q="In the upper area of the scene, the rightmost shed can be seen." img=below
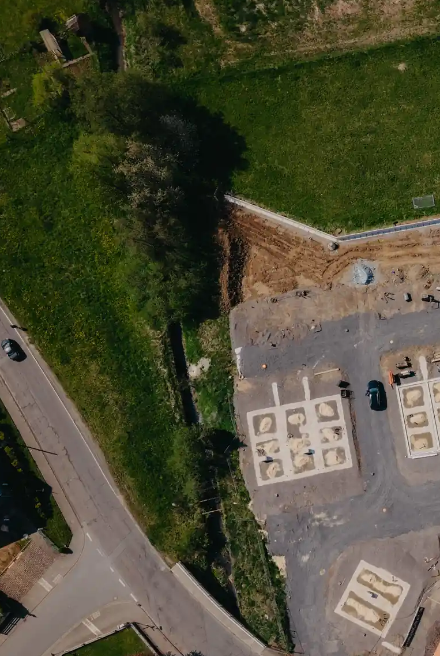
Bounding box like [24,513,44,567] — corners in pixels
[66,14,90,40]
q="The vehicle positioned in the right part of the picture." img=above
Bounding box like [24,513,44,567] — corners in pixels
[368,380,384,411]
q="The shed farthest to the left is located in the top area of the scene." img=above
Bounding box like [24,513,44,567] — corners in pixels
[41,28,65,57]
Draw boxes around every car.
[3,337,25,362]
[368,380,384,411]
